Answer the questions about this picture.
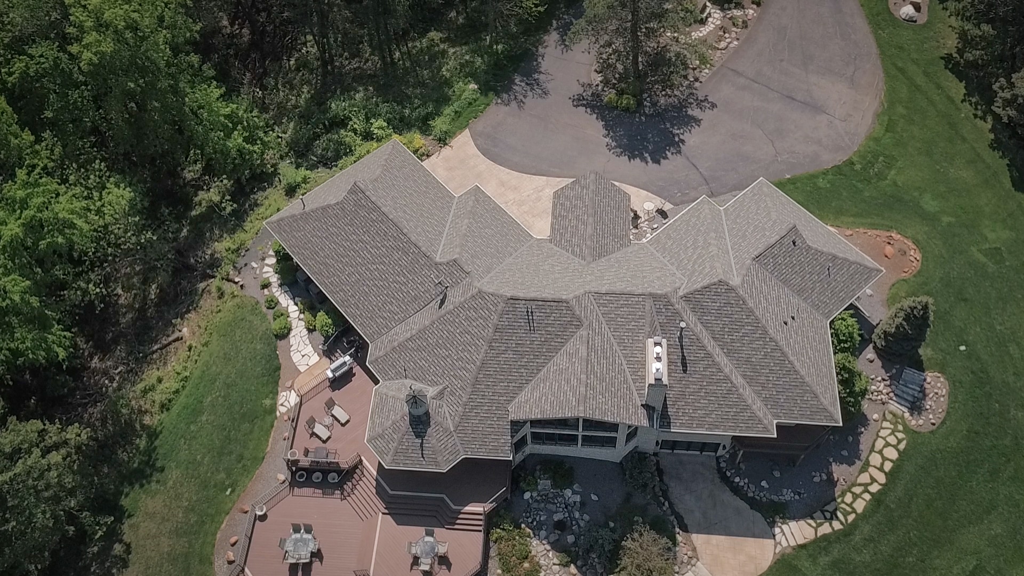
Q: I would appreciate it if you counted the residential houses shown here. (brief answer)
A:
one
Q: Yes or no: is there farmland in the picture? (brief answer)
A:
No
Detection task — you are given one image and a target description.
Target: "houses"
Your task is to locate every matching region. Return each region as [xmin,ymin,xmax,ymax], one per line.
[263,138,886,477]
